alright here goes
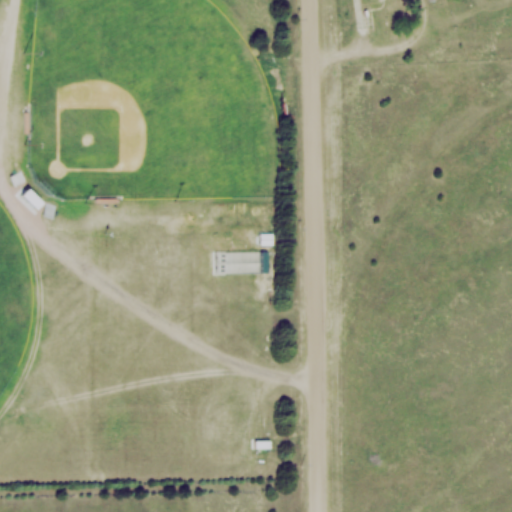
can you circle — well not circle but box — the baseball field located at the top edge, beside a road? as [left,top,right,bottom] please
[27,0,283,201]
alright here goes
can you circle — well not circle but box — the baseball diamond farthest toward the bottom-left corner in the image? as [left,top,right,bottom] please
[0,193,36,404]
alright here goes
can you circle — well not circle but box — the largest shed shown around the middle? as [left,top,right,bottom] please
[216,252,268,274]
